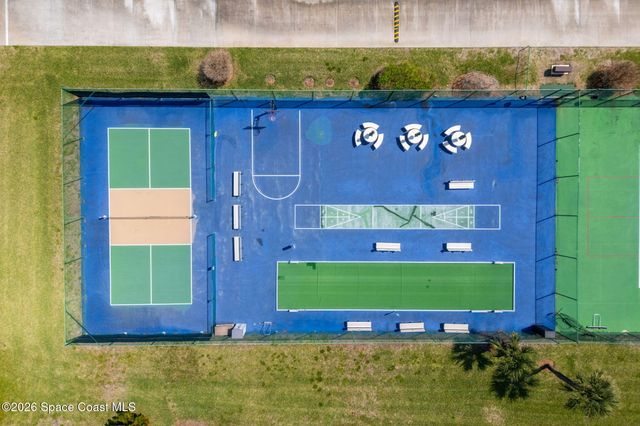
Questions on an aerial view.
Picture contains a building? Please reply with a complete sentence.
No, the frame has no building in it.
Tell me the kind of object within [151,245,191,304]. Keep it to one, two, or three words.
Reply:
sports court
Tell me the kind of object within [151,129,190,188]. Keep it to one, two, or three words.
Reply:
sports court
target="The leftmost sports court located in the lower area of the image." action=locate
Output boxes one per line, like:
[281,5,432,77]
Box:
[110,245,150,304]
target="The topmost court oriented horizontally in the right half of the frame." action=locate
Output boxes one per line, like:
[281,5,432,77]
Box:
[294,204,502,230]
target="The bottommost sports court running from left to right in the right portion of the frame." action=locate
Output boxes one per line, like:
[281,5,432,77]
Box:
[276,261,516,313]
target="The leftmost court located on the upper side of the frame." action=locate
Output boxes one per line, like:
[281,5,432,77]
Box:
[109,129,149,188]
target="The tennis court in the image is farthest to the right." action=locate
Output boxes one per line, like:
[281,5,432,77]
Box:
[555,97,640,332]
